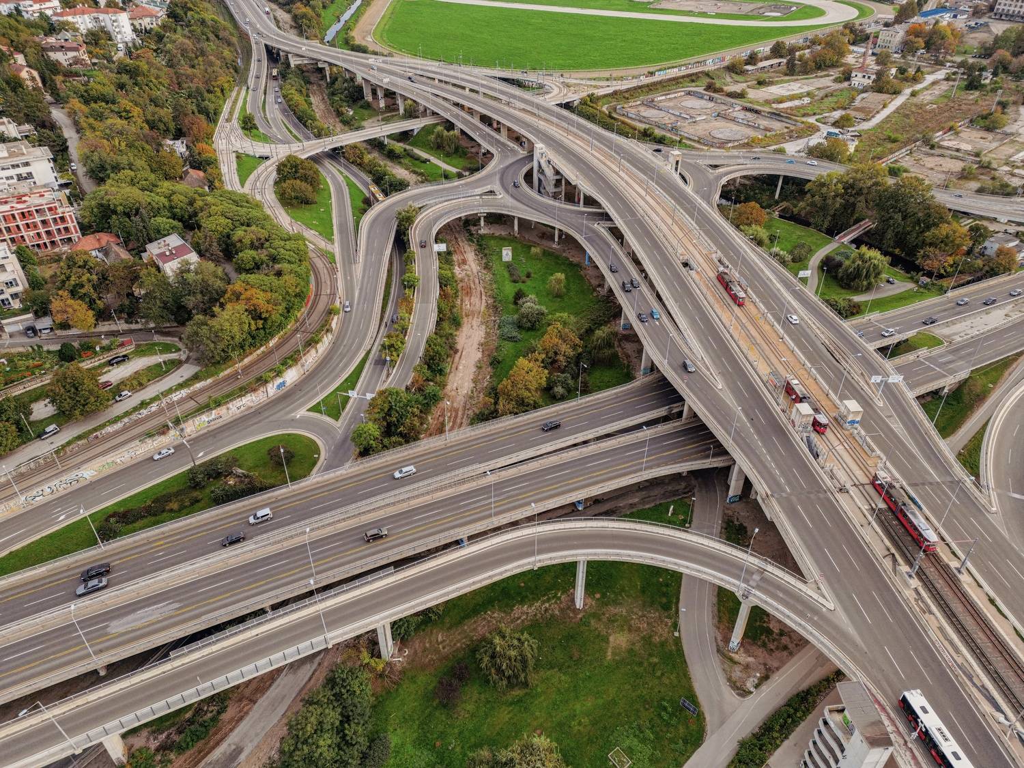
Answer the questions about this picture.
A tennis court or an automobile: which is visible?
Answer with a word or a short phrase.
automobile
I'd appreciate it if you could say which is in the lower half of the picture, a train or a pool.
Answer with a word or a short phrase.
train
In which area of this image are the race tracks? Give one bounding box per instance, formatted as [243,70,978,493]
[352,0,894,76]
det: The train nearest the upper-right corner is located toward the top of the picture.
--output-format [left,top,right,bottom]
[718,265,748,303]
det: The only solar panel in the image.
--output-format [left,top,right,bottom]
[675,694,703,717]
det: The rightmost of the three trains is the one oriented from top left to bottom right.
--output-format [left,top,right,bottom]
[873,468,939,550]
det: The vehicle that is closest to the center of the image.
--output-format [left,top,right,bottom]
[540,417,563,432]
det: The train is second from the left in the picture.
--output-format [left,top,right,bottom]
[786,374,829,431]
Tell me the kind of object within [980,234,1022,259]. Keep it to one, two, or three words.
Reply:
house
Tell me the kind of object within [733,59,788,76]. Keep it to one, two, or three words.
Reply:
house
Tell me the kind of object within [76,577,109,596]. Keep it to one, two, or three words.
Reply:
car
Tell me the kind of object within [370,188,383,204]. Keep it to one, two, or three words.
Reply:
vehicle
